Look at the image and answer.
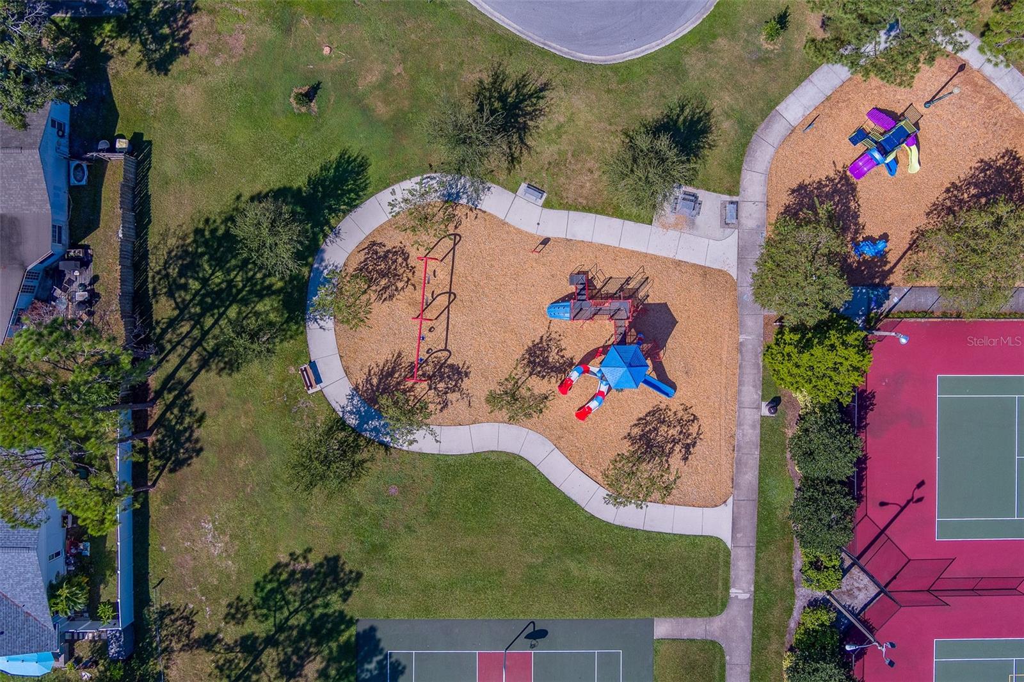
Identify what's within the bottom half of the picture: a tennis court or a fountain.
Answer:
tennis court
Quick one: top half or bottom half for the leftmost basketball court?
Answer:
bottom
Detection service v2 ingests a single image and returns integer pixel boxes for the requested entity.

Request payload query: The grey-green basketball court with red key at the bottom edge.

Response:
[356,619,654,682]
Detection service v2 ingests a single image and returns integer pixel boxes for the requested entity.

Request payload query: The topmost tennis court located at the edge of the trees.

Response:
[842,321,1024,591]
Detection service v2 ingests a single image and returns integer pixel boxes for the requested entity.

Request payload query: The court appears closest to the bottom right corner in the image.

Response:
[838,591,1024,682]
